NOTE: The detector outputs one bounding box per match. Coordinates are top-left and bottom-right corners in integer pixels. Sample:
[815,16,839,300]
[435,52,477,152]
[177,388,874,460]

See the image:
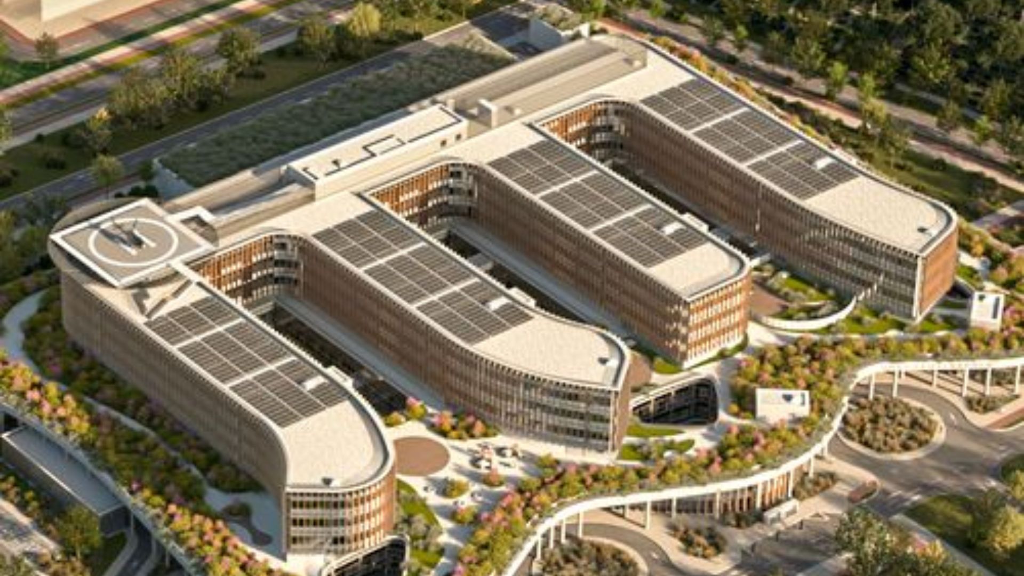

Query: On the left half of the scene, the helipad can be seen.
[62,202,208,282]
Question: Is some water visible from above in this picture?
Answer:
No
